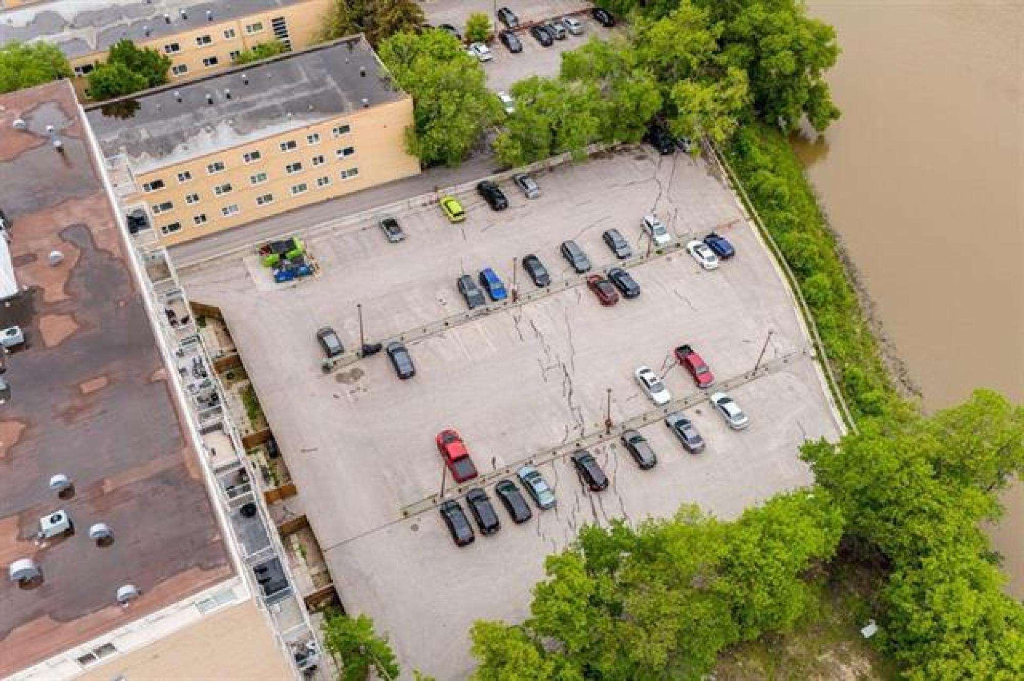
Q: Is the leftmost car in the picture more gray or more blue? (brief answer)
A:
gray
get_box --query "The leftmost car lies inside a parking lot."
[317,324,345,359]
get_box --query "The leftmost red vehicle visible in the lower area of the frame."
[439,428,477,484]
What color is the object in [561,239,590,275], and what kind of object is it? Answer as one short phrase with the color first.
gray car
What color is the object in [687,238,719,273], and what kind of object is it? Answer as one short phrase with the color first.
white car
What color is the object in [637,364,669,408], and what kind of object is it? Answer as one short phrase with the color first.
white car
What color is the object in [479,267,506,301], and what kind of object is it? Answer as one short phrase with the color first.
blue car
